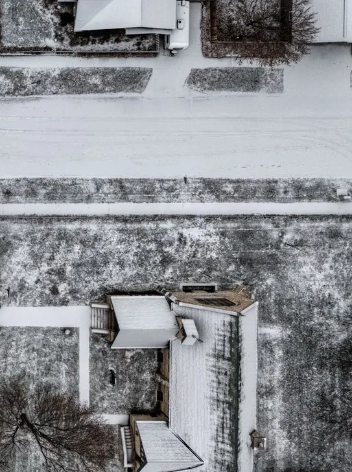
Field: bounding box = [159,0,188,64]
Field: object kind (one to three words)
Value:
trailer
